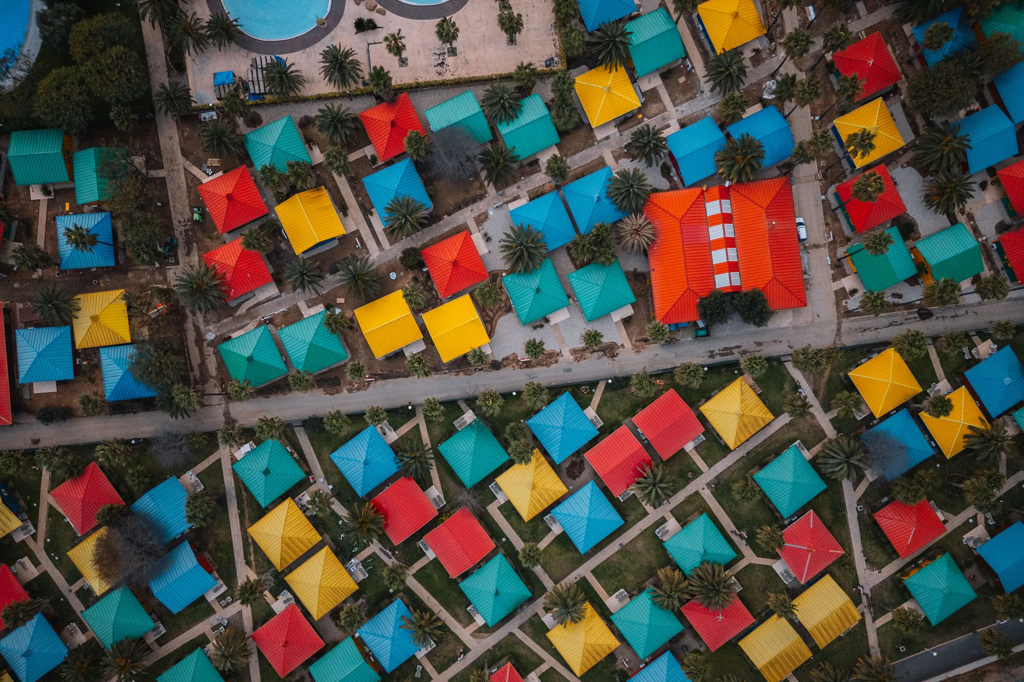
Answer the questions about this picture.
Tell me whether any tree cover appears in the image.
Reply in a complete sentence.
Yes, the picture does contain tree cover.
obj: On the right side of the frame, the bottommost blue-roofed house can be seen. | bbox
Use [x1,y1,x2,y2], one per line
[625,645,691,682]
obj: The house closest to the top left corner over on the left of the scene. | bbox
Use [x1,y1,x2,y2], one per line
[5,129,75,186]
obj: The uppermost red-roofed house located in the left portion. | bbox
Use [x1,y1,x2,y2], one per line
[359,91,429,163]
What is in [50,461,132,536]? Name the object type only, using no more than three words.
house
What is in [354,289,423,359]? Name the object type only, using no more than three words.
house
